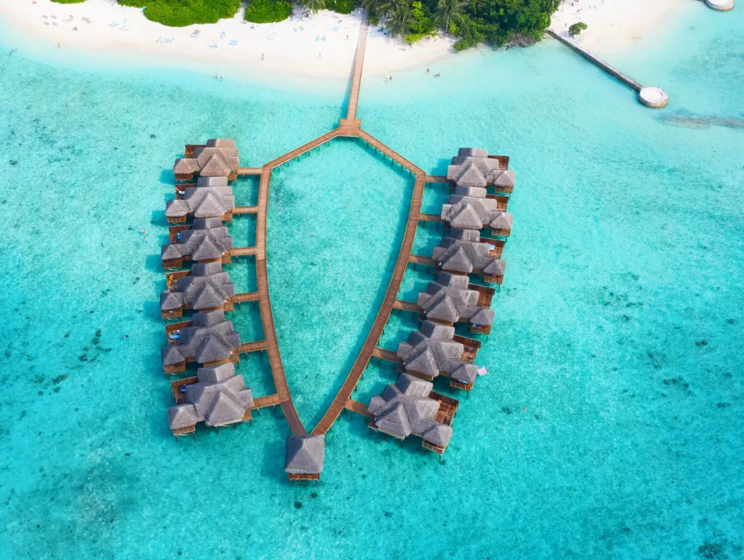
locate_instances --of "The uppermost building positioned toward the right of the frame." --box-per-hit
[443,147,514,205]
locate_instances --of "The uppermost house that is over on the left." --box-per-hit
[173,137,243,189]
